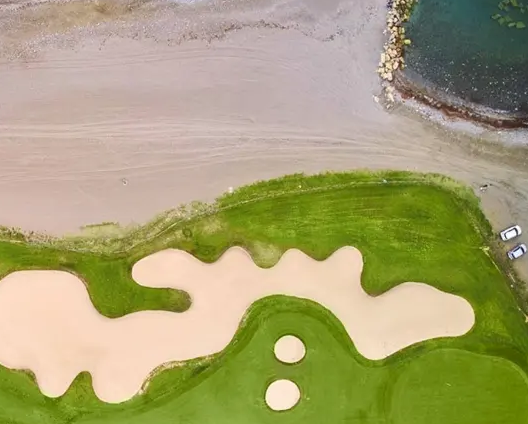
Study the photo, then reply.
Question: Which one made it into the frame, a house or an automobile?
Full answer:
I can see an automobile in this picture.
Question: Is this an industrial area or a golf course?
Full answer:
The picture captures a golf course.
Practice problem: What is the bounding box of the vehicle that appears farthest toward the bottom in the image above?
[506,244,528,261]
